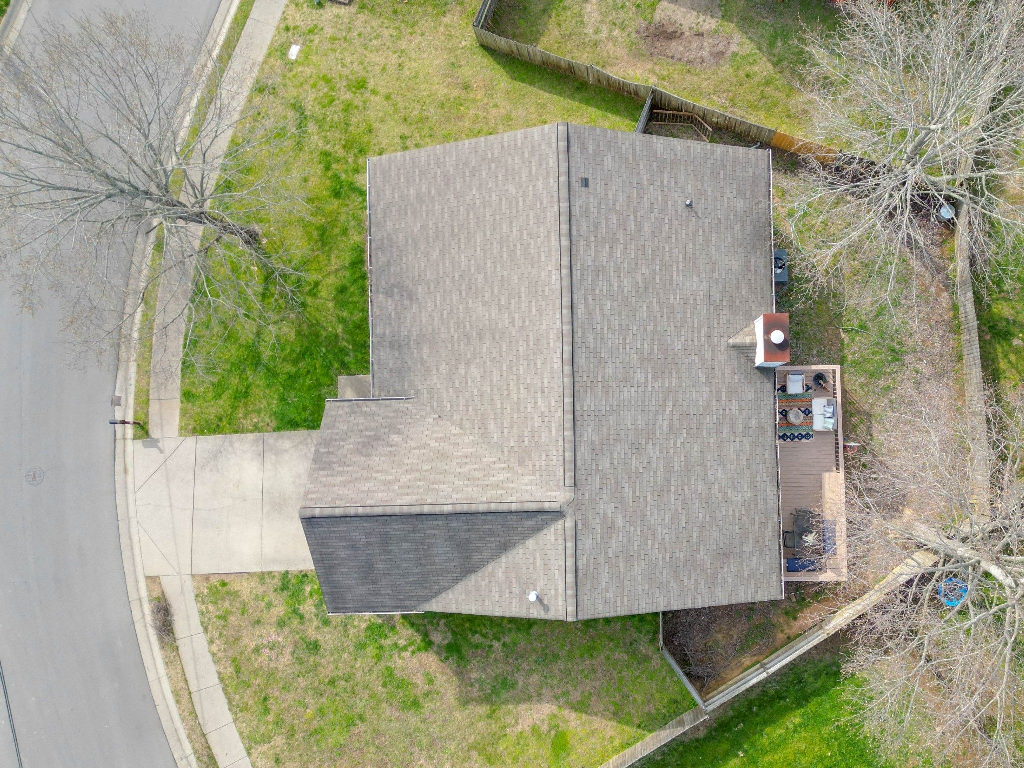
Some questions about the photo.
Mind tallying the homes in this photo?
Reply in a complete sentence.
There is 1 home in the image.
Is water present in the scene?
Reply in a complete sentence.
No, there is no water in the image.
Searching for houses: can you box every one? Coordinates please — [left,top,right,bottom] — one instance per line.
[299,119,791,621]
